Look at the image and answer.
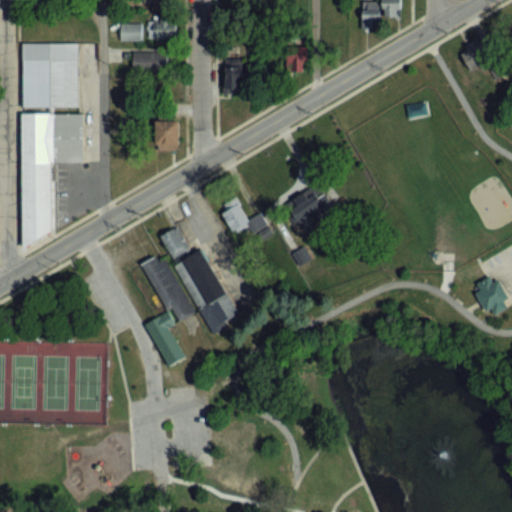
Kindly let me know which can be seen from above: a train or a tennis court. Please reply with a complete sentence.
This aerial view contains a tennis court.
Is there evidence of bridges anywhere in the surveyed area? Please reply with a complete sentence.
No, there isn't any bridge down there.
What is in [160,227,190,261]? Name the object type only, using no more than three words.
house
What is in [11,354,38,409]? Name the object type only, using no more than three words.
tennis court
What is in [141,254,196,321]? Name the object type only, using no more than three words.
shed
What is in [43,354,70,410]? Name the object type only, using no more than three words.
tennis court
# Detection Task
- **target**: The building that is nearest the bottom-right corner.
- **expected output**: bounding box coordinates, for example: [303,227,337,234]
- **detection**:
[476,276,508,313]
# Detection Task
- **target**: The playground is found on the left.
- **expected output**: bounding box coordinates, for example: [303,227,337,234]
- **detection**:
[64,432,130,502]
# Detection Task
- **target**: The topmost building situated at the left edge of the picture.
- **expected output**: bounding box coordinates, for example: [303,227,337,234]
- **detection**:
[21,42,80,108]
